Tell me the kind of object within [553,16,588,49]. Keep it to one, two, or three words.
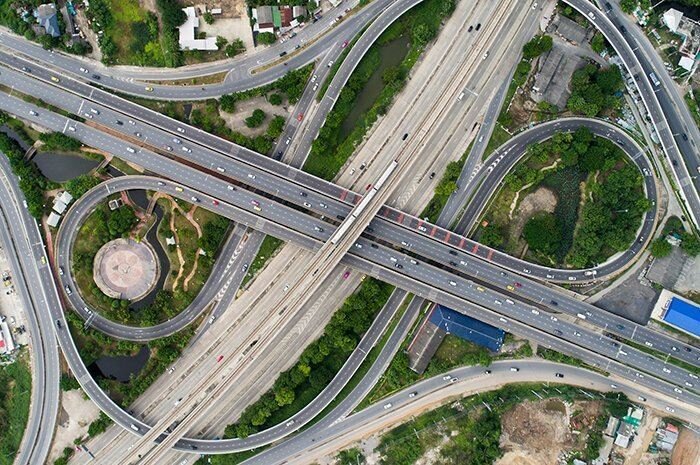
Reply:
building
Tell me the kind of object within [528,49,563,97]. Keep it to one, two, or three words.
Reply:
building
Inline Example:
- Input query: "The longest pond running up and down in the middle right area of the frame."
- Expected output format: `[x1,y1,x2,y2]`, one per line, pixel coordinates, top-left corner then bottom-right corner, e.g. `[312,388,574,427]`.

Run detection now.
[543,165,586,264]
